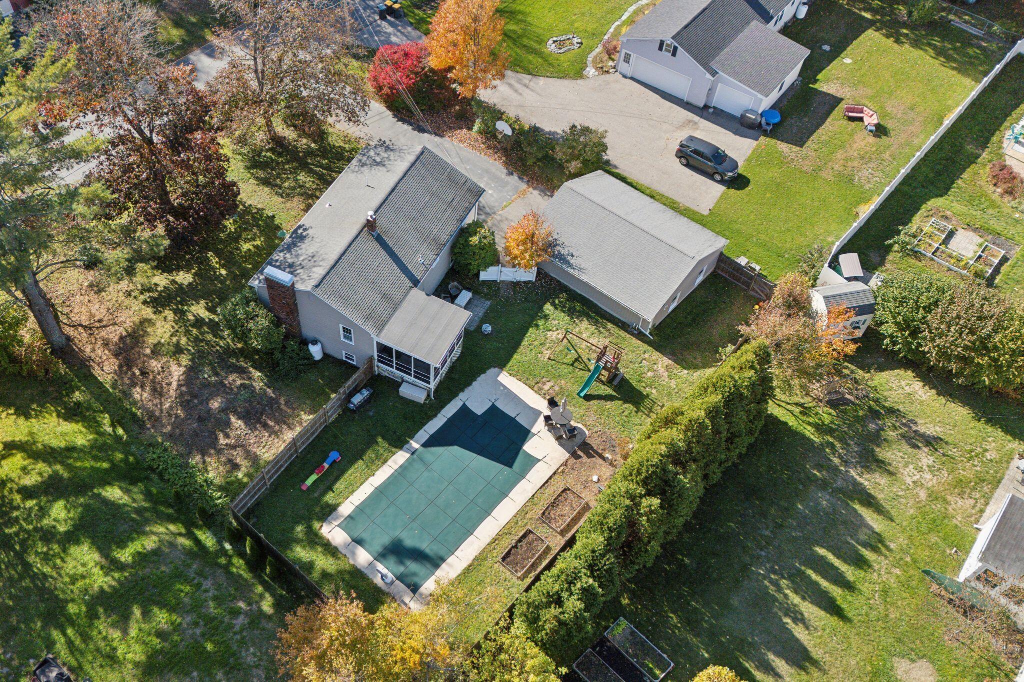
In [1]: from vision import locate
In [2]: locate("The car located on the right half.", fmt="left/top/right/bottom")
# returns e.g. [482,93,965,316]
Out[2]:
[674,132,741,181]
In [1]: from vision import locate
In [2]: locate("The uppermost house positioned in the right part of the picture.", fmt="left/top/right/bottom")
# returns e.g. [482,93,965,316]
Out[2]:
[617,0,809,114]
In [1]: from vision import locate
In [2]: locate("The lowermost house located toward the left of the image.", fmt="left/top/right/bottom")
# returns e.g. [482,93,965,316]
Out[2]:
[248,145,486,400]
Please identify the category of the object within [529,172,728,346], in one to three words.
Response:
building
